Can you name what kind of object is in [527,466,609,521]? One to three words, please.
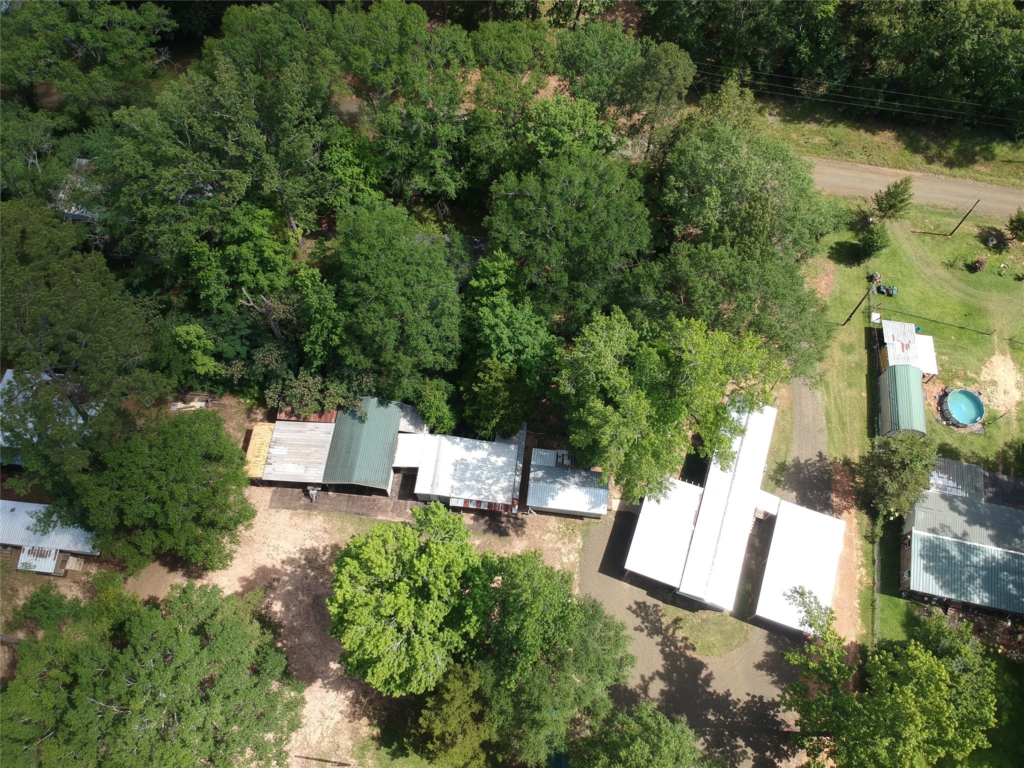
house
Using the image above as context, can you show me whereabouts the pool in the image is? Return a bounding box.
[942,391,986,429]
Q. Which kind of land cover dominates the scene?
trees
